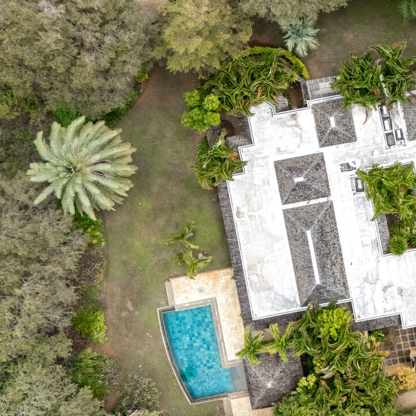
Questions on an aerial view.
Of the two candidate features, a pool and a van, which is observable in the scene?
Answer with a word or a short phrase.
pool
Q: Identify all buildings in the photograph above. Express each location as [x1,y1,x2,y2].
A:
[218,88,416,374]
[243,347,308,410]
